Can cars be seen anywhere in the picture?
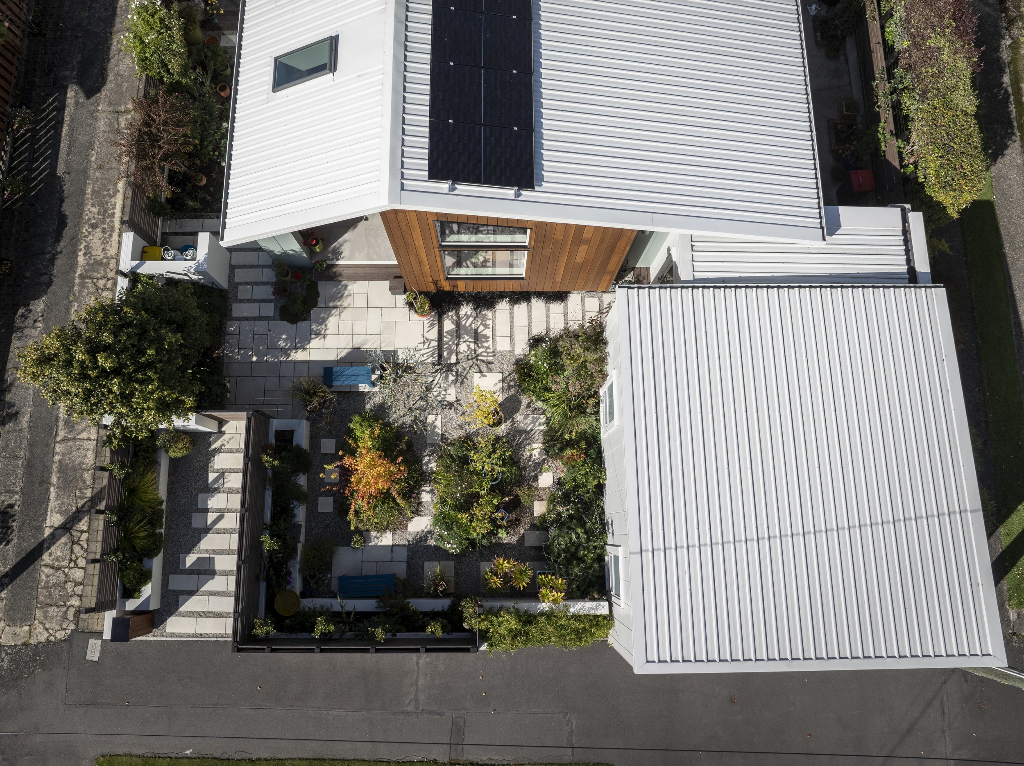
No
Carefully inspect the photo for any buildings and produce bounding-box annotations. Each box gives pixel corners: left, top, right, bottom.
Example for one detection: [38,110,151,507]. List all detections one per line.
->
[211,0,832,291]
[599,281,1011,676]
